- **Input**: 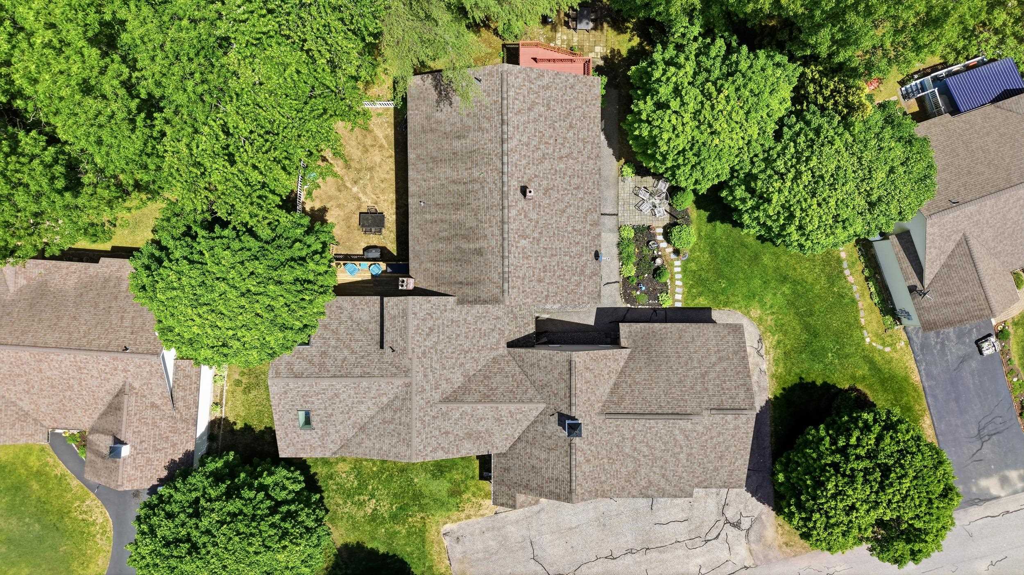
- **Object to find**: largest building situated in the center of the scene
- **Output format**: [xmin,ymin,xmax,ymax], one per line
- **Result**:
[268,64,756,510]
